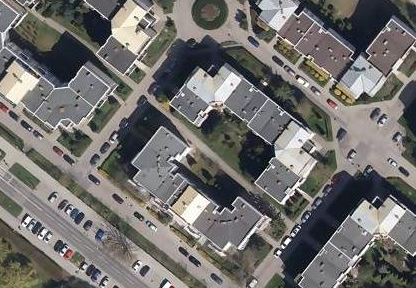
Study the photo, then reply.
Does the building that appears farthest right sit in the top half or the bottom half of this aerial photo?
top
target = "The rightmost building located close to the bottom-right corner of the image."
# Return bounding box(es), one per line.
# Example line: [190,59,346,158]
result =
[299,194,416,288]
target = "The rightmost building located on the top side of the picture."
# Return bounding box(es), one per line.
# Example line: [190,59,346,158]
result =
[366,20,416,76]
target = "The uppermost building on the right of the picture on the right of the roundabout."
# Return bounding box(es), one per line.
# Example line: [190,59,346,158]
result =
[257,0,299,32]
